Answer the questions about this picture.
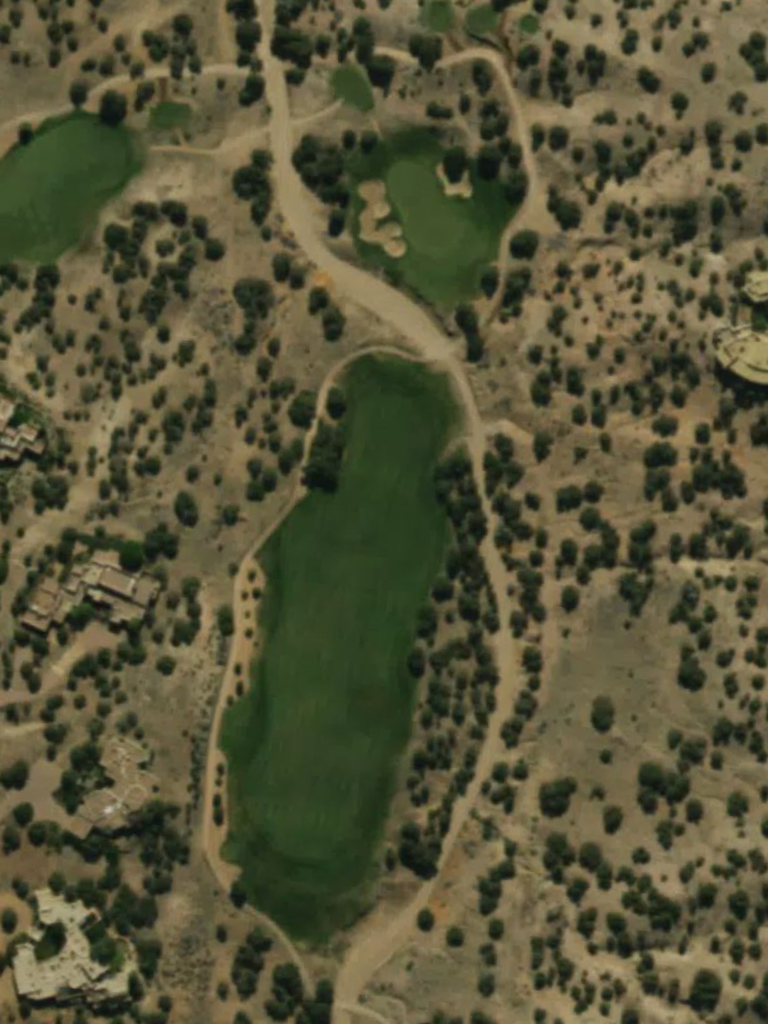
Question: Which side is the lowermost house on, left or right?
left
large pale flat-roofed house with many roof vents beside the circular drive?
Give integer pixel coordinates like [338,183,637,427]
[12,888,133,1000]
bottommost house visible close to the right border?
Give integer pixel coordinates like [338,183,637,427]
[716,323,768,384]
